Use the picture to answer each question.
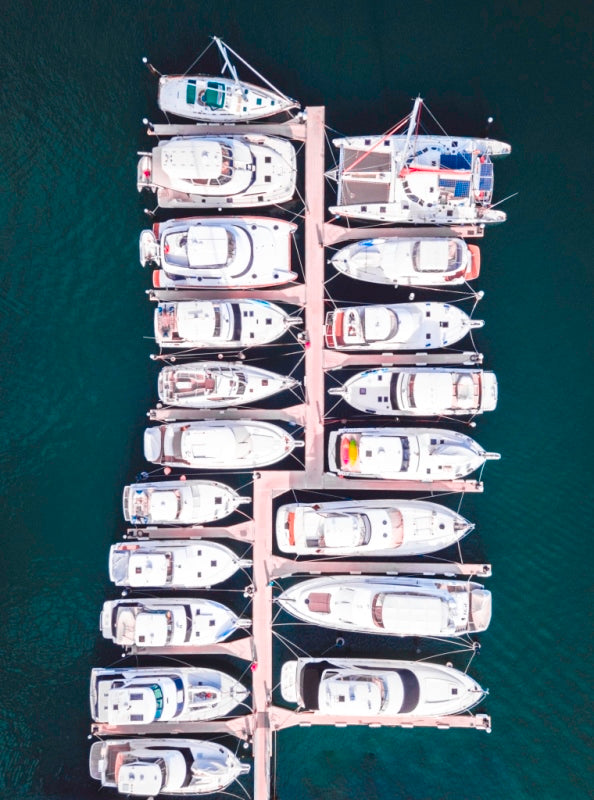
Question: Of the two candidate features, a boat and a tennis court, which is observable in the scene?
boat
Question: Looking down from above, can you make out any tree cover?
No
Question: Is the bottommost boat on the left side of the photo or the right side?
left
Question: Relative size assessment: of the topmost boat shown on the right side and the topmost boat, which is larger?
the topmost boat shown on the right side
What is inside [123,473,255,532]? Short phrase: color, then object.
white boat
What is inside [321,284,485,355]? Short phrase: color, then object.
white boat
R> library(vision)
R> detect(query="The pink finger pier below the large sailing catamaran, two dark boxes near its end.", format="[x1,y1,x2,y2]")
[324,223,484,246]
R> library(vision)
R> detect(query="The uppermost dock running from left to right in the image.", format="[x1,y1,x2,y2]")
[148,115,305,141]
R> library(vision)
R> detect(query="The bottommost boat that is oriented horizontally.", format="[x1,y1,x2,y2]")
[90,733,252,800]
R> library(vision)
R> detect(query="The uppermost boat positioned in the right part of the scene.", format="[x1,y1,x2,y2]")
[324,91,518,228]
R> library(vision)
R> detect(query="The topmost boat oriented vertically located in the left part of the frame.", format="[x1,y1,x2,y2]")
[136,154,155,194]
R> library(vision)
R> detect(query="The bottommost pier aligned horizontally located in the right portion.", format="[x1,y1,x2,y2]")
[272,706,491,731]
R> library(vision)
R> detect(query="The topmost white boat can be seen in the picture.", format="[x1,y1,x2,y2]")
[148,32,304,125]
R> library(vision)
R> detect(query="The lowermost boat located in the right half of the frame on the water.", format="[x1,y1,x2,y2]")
[272,628,491,720]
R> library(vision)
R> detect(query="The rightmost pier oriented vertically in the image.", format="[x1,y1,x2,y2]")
[305,106,325,471]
